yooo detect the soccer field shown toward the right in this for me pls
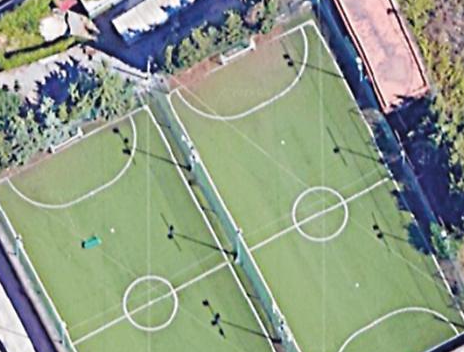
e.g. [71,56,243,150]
[149,17,464,352]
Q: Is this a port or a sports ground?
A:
sports ground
